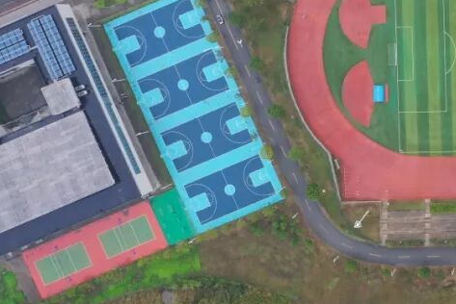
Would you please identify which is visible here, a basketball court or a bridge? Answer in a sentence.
Looking from above, you can make out a basketball court.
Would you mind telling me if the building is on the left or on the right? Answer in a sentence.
The building appears in the left half of the scene.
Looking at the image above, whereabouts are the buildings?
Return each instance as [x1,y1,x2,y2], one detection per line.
[0,4,153,256]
